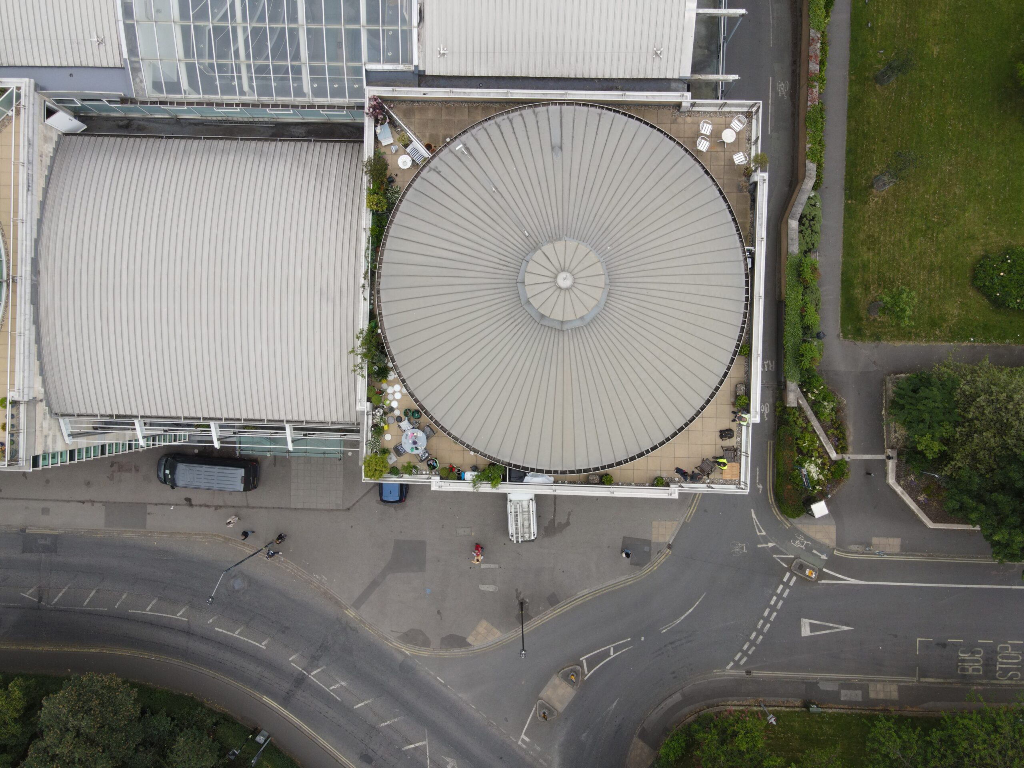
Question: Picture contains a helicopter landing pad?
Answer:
No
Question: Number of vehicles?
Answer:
3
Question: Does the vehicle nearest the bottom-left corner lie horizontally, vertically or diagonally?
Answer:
horizontally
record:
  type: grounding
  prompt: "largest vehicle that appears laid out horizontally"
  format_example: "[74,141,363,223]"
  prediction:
[152,449,262,491]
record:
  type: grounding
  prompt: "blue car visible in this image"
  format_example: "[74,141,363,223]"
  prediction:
[378,483,409,506]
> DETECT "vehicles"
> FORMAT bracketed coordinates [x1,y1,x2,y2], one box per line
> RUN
[378,483,409,506]
[152,449,262,491]
[504,493,539,546]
